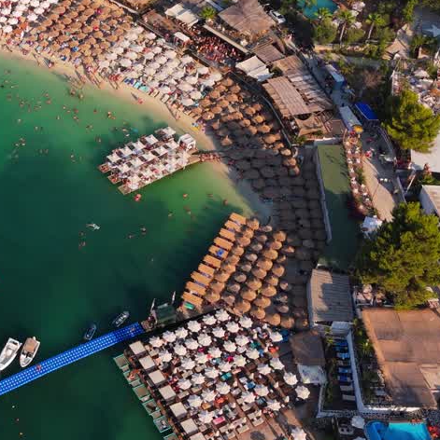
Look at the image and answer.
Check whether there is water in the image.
Yes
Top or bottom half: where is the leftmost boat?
bottom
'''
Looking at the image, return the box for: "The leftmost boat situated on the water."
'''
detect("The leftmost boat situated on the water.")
[0,336,22,368]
